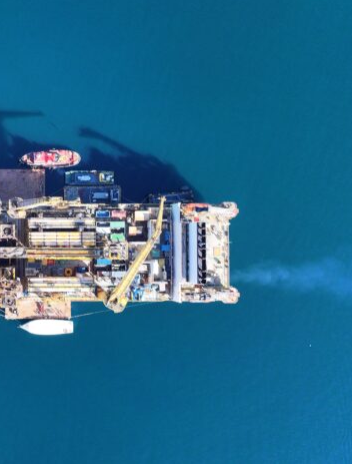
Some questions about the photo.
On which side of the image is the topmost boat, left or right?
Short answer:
left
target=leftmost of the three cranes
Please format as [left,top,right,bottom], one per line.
[2,194,56,216]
